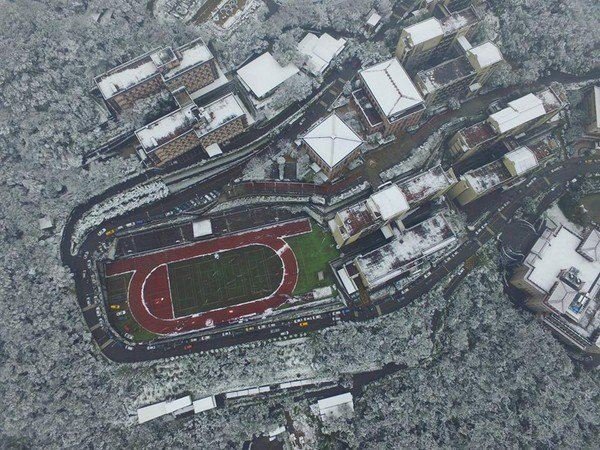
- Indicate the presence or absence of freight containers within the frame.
No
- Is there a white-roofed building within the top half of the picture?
Yes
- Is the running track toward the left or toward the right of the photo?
left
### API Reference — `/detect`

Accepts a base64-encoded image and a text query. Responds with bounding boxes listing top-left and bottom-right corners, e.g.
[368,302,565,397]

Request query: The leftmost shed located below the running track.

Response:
[136,400,170,424]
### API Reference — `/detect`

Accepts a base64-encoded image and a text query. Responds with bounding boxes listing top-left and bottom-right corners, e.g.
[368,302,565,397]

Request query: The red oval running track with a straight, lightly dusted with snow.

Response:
[105,221,313,332]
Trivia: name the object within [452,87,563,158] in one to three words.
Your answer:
building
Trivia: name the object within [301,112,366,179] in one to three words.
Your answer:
building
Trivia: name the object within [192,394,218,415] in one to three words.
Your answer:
shed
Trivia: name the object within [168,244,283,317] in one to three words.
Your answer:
sports field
